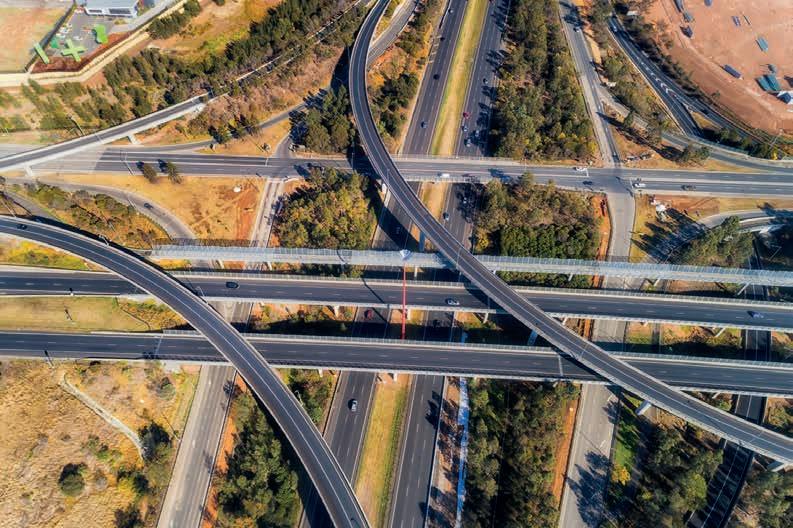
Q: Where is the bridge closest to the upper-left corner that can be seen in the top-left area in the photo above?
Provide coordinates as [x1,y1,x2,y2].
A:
[0,88,223,170]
